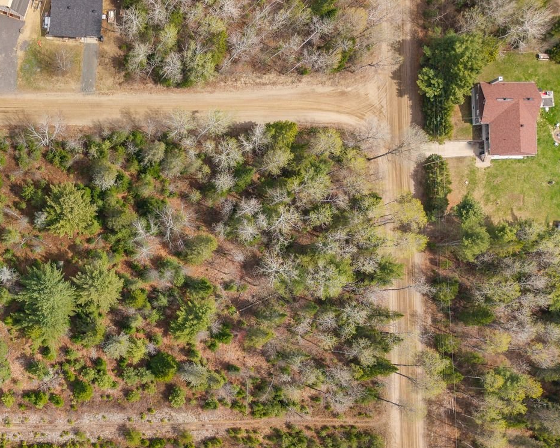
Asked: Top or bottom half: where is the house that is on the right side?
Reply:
top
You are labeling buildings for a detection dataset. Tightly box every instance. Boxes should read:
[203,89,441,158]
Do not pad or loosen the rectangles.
[0,0,30,21]
[470,78,543,158]
[48,0,104,42]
